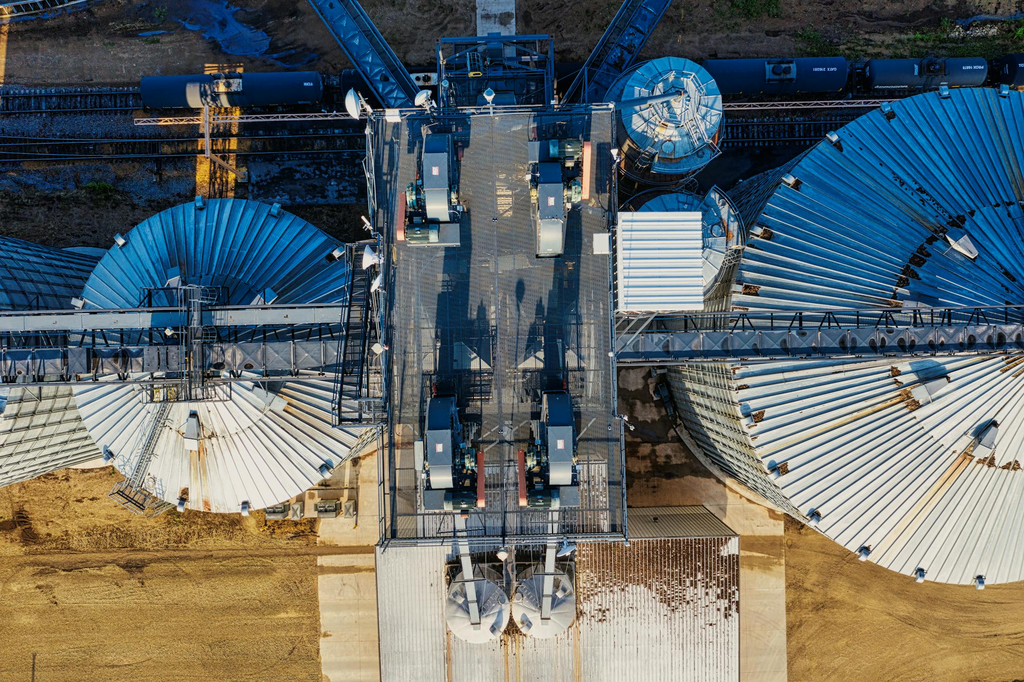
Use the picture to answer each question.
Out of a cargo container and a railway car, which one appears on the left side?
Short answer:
railway car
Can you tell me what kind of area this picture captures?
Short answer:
industrial area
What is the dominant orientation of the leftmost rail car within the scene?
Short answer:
from side to side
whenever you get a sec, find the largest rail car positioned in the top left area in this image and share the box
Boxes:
[137,69,334,113]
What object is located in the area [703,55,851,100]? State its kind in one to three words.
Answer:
rail car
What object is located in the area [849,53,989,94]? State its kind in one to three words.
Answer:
rail car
